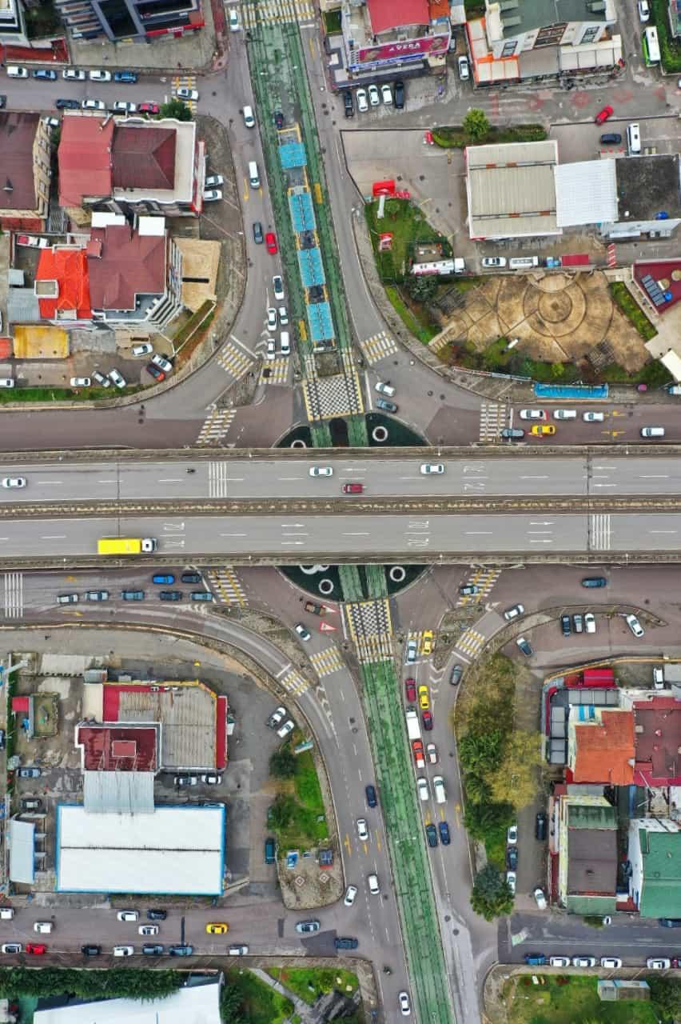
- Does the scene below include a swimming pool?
No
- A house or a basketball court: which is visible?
house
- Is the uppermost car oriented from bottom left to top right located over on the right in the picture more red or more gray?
red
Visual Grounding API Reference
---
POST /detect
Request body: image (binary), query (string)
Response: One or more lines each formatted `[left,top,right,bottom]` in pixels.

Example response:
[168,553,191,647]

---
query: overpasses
[0,444,681,567]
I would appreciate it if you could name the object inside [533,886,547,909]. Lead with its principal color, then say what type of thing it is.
white car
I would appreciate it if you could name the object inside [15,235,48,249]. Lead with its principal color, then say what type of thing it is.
white vehicle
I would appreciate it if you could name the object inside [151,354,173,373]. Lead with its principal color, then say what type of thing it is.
white car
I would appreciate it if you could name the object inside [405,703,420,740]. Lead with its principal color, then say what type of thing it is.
white vehicle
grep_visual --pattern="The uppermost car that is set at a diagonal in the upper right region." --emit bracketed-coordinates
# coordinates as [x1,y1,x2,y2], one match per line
[594,105,614,127]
